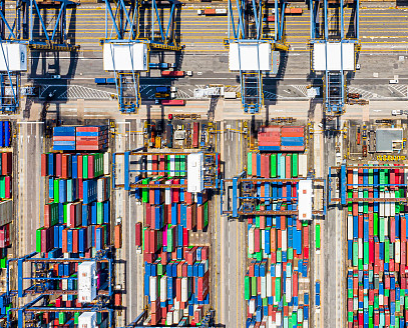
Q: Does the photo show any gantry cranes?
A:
Yes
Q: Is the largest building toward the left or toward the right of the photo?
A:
right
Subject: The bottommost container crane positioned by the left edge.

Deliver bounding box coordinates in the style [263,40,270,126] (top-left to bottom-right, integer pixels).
[7,289,116,328]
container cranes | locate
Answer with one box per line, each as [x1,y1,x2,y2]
[114,143,220,191]
[7,289,116,328]
[114,307,220,328]
[7,243,116,299]
[221,168,327,219]
[100,0,185,115]
[223,0,291,115]
[0,0,84,116]
[306,0,363,115]
[328,156,408,205]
